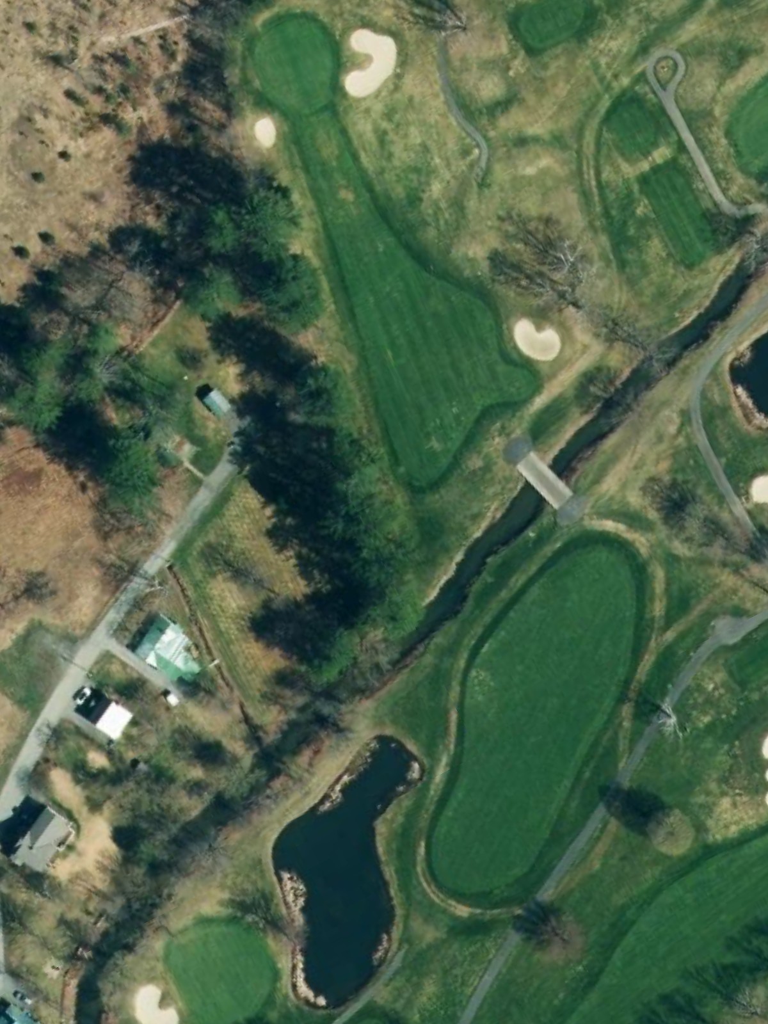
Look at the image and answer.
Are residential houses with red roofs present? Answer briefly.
No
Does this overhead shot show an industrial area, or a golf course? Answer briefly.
golf course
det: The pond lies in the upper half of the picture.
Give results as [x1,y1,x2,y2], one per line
[730,333,768,432]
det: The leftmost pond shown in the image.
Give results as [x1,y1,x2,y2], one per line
[273,736,422,1007]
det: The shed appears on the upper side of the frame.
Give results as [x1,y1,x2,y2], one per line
[203,389,230,418]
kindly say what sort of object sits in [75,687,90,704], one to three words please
car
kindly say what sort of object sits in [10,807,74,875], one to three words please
house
